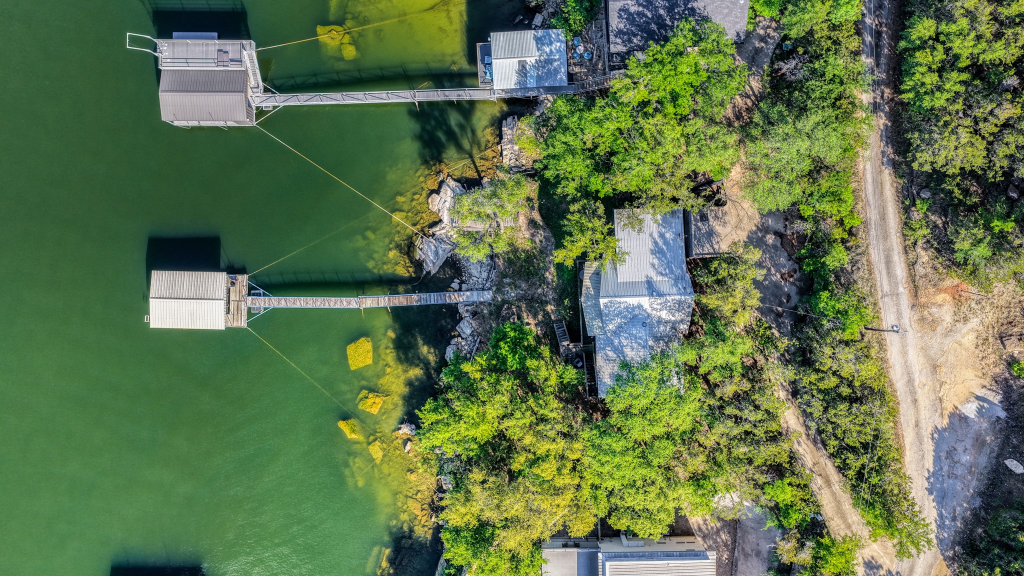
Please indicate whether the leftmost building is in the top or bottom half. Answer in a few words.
top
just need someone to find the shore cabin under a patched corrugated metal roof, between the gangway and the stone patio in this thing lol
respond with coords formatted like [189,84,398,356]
[478,29,567,93]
